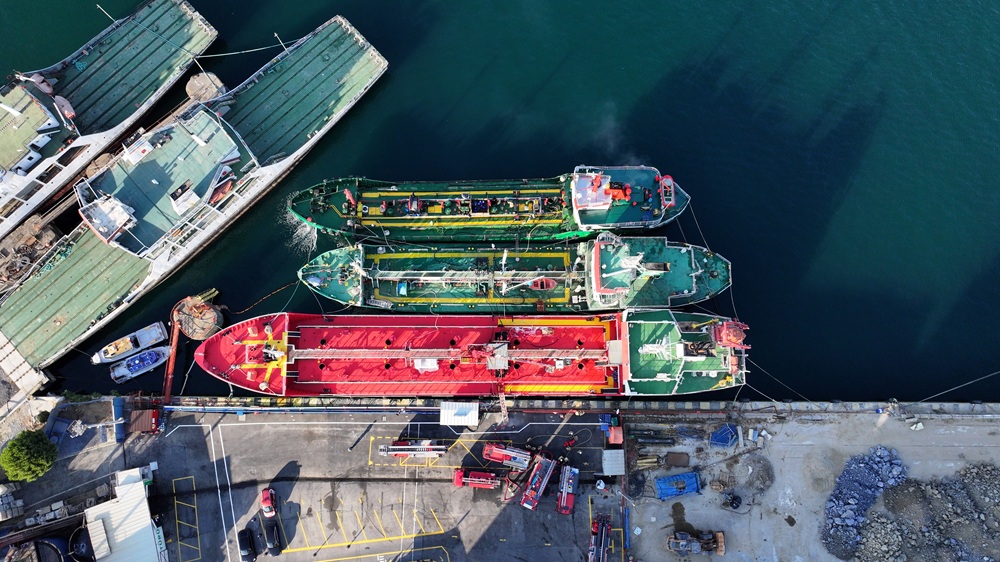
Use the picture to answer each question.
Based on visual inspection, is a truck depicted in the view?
Yes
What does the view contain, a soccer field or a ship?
ship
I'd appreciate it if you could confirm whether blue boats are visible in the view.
Yes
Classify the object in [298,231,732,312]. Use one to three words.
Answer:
ship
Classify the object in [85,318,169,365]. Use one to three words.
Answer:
boat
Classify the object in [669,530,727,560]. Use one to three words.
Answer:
work vehicle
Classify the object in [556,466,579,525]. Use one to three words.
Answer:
truck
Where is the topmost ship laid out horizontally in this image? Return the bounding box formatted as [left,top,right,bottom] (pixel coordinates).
[288,160,691,262]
